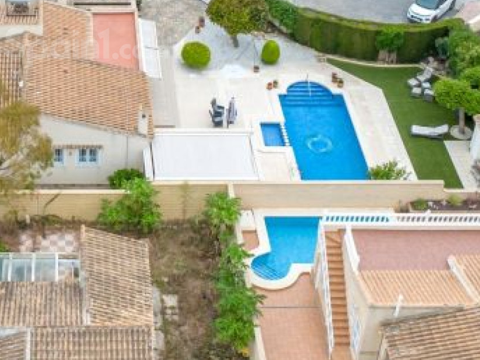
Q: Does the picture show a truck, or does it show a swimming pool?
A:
swimming pool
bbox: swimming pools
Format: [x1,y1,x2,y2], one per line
[238,202,337,316]
[272,76,379,179]
[256,119,291,147]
